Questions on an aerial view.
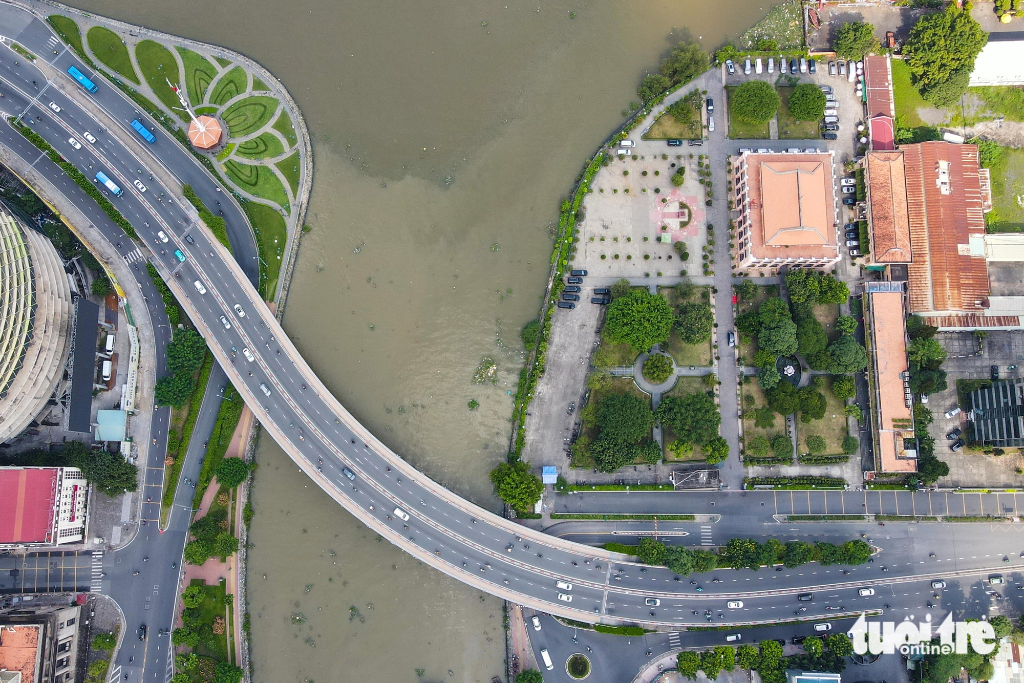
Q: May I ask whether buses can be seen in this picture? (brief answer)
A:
Yes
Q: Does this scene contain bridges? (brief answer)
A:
Yes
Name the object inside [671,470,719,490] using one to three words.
building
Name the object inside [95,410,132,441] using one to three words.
shed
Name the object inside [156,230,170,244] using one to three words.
car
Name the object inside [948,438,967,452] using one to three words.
vehicle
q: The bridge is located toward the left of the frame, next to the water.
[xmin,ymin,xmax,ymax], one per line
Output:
[146,218,614,629]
